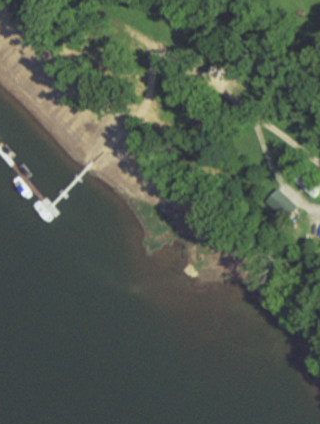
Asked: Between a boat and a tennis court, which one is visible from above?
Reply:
boat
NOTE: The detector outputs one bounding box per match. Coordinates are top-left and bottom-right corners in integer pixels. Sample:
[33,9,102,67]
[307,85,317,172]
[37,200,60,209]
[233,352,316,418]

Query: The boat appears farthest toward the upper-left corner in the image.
[0,140,16,158]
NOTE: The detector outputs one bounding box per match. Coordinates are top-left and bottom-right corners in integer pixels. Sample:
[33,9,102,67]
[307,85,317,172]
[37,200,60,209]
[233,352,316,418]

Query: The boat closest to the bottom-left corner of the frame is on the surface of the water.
[32,201,54,224]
